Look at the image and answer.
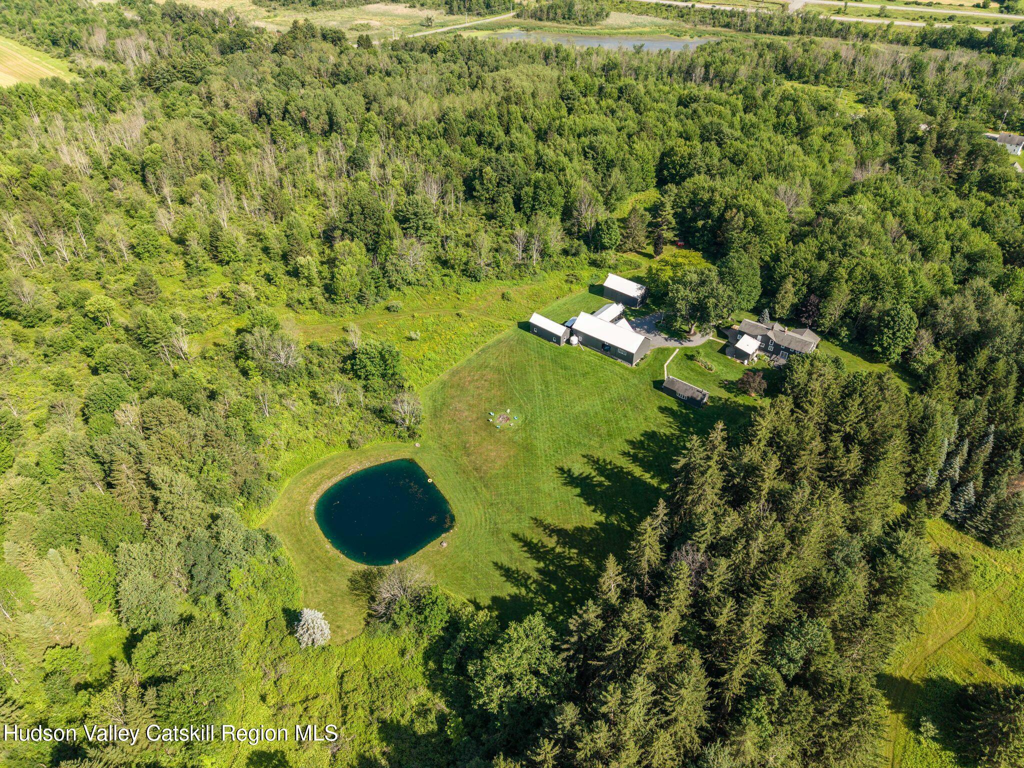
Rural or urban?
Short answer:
rural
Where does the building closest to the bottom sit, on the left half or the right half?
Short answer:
right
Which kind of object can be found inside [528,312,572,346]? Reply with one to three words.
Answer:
barn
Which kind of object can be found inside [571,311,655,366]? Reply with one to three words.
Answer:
barn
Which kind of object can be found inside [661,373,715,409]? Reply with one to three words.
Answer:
building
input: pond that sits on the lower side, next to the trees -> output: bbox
[314,458,455,565]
